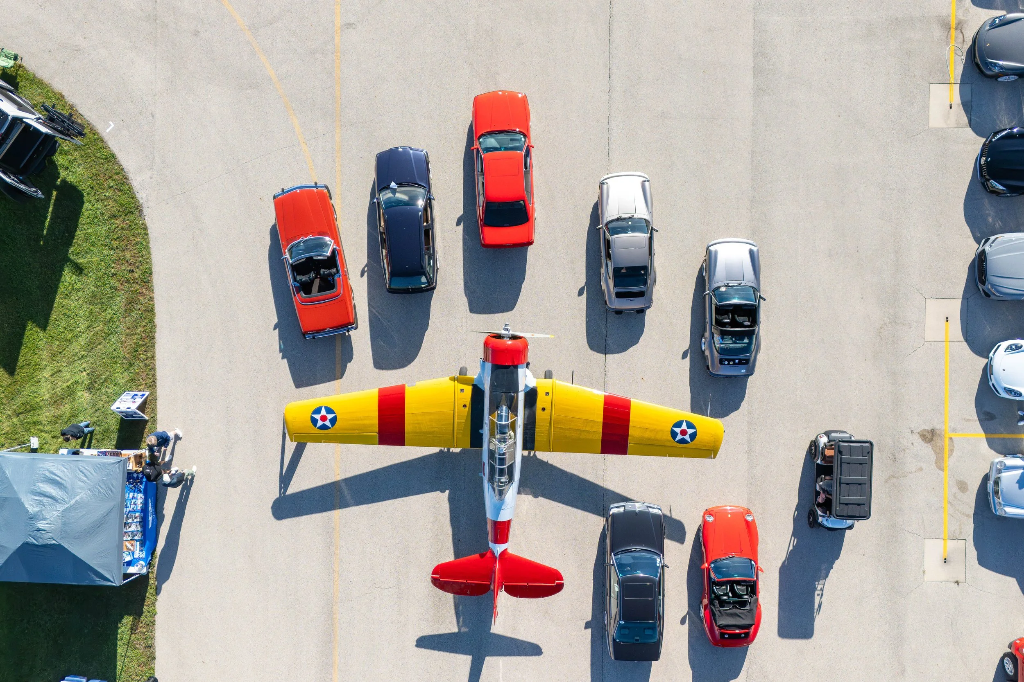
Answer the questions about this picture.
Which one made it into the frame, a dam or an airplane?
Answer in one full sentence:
The image shows an airplane.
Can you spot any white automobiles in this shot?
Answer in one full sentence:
Yes, a white automobile can be made out from above.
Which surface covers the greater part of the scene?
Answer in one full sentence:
For the most part, this view shows paved ground.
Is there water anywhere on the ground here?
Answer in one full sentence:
No, there is no water in the image.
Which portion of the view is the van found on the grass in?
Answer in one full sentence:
The van found on the grass is in the top left part of the image.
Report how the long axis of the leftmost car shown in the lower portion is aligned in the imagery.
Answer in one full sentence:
The leftmost car shown in the lower portion is oriented vertically.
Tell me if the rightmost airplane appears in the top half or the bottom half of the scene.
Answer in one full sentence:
The bottom half of the photo is where the rightmost airplane is.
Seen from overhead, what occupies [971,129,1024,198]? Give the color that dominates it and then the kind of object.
black car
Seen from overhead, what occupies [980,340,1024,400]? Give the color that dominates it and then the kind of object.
white car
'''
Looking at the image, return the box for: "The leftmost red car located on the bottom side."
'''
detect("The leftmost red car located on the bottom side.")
[696,504,767,647]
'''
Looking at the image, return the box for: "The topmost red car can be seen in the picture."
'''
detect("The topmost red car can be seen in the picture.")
[469,89,537,249]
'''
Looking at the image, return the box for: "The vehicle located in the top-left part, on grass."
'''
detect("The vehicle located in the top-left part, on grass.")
[0,87,82,198]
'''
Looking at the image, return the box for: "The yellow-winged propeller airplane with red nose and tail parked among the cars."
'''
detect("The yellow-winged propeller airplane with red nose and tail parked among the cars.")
[282,323,725,625]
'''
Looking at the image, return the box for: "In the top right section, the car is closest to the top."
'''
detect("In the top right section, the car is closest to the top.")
[965,13,1024,83]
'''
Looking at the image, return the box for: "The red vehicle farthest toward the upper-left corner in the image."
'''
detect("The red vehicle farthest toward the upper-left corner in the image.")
[272,181,361,340]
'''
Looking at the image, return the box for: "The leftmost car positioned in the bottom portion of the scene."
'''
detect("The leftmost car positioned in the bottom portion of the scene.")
[603,500,671,664]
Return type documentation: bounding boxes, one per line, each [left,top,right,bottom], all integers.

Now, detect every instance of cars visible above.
[469,89,537,249]
[698,237,768,377]
[696,504,767,647]
[595,171,661,315]
[994,640,1024,682]
[982,456,1024,518]
[980,340,1024,400]
[971,129,1024,198]
[371,146,439,293]
[965,13,1024,83]
[968,234,1024,299]
[603,500,671,664]
[272,181,361,340]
